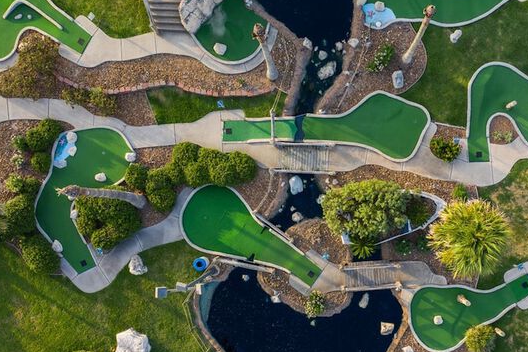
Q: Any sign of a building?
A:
No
